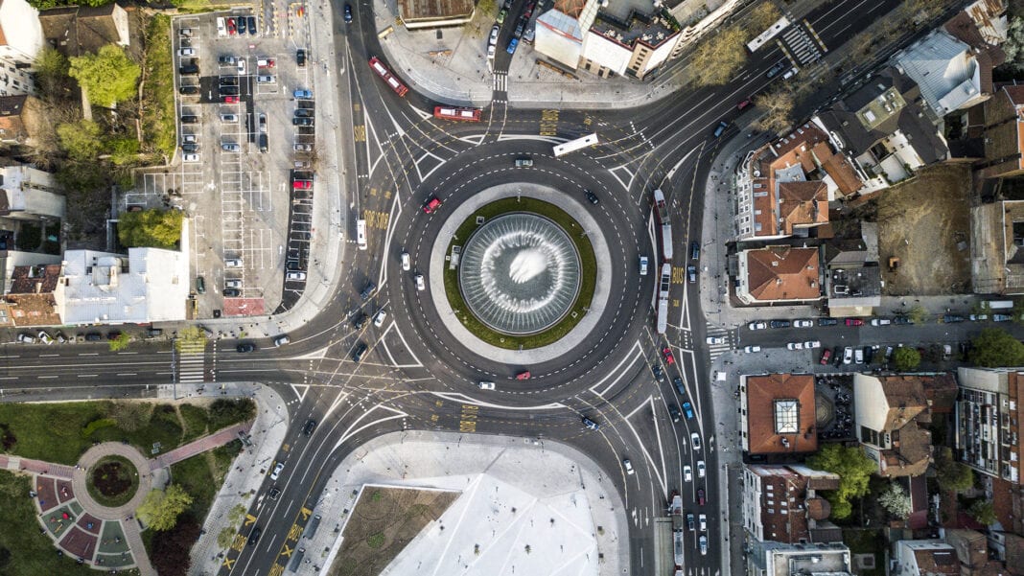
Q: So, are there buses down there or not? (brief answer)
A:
Yes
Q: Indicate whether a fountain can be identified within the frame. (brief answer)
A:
Yes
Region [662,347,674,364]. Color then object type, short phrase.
red vehicle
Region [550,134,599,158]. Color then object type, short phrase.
white bus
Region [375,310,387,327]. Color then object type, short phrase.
white vehicle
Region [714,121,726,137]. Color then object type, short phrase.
blue vehicle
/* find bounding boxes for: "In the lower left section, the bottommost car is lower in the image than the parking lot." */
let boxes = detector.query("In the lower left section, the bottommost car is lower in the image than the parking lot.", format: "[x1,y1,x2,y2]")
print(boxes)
[249,527,261,544]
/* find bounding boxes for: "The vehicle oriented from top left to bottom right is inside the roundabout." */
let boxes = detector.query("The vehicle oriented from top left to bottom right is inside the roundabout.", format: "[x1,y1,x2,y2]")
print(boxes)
[583,189,599,206]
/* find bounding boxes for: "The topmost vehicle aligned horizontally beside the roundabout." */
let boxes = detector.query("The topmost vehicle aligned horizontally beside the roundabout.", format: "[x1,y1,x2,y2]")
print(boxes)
[433,107,488,121]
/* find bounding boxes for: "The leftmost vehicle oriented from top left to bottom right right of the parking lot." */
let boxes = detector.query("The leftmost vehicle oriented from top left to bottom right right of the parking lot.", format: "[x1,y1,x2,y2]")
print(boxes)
[369,56,410,99]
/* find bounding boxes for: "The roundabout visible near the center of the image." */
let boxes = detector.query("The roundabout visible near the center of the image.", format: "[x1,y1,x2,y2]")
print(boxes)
[385,140,655,409]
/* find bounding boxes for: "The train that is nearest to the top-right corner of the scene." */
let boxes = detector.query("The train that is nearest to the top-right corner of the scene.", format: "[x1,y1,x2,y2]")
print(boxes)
[653,189,672,259]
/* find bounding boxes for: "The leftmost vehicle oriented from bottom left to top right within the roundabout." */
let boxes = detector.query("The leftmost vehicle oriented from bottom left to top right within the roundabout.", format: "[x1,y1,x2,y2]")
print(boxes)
[422,197,440,212]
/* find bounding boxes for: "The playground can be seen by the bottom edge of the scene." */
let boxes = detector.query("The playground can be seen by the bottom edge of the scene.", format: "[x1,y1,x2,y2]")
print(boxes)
[34,475,135,570]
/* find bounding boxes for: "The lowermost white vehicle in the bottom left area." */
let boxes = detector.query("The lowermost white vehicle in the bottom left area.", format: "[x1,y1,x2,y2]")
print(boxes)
[271,462,284,480]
